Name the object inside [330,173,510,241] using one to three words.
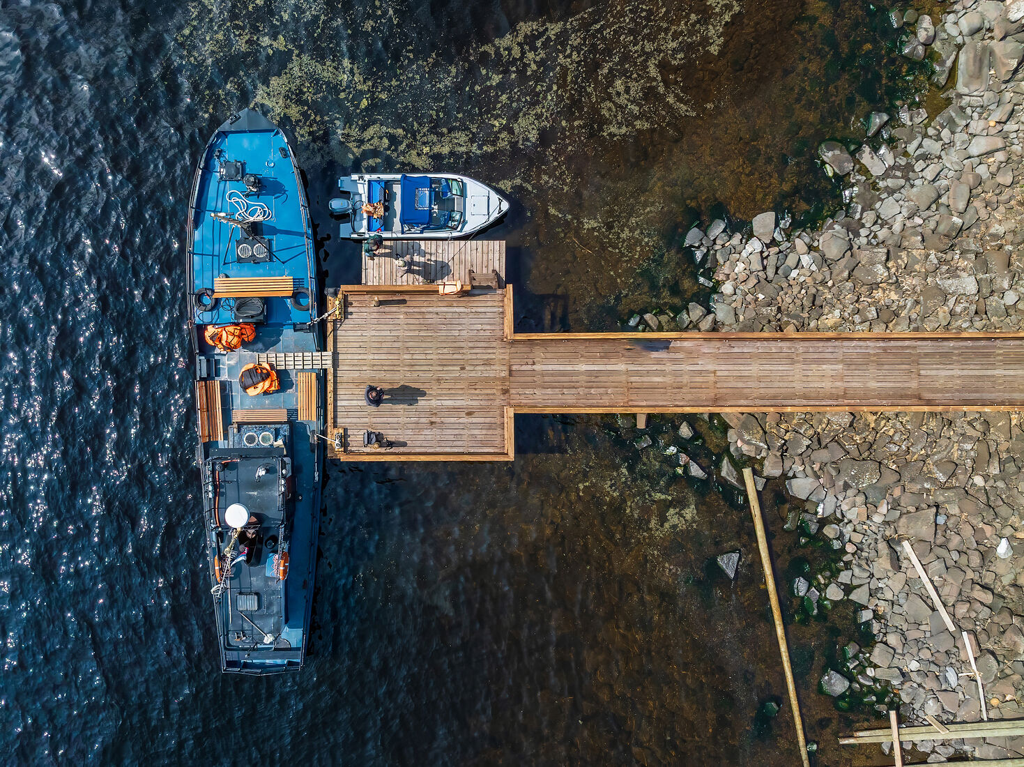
boat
